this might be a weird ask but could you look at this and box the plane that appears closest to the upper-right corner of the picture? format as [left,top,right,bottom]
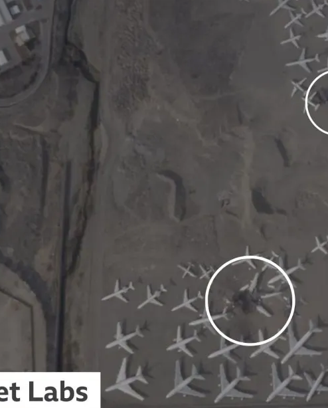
[305,0,328,18]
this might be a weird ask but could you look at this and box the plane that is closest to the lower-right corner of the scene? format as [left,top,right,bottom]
[304,368,328,402]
